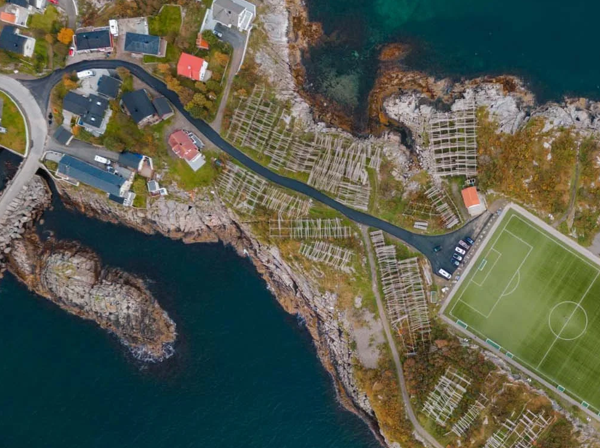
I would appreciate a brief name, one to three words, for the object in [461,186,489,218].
shed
